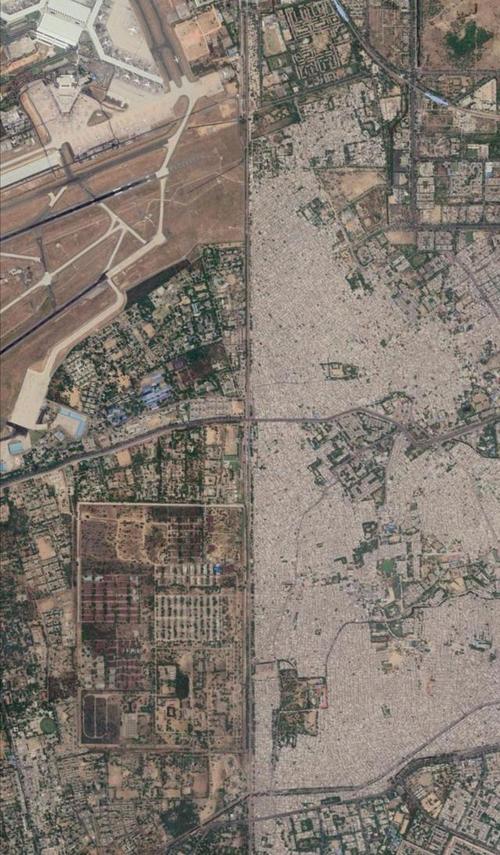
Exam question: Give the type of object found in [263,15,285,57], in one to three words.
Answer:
sports field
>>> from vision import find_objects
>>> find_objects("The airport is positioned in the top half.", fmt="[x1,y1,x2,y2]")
[0,0,242,473]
